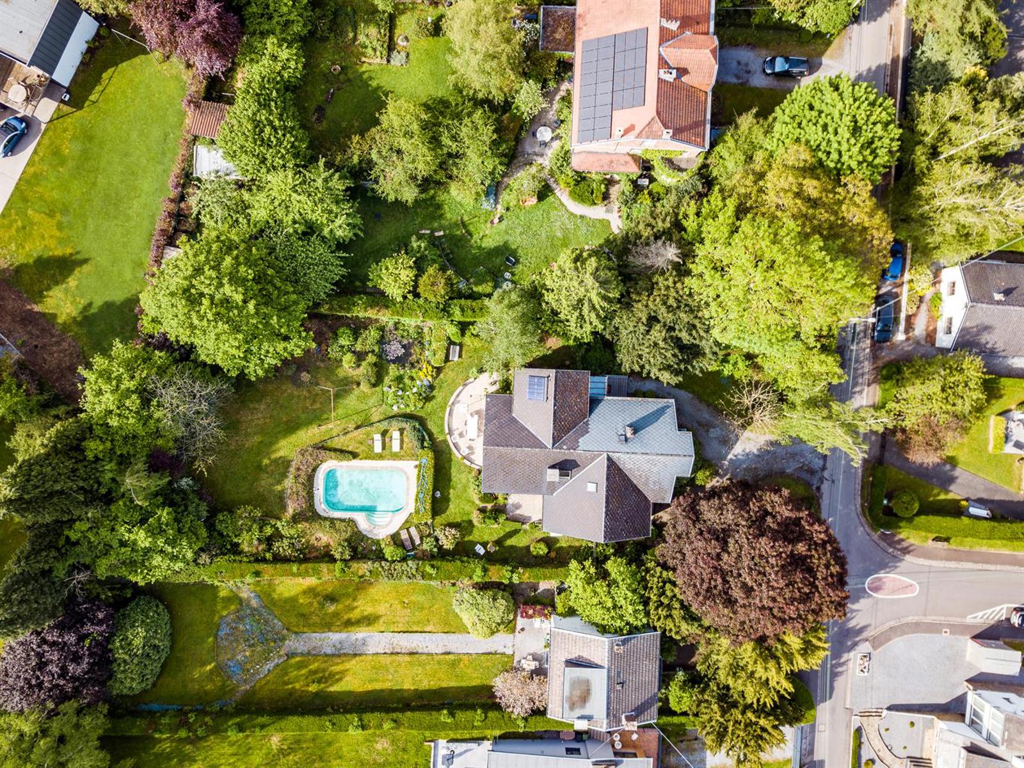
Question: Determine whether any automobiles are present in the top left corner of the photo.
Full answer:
Yes, an automobile is visible in the top left corner of the photo.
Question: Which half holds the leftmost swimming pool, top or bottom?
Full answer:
It is in the bottom half that the leftmost swimming pool appears.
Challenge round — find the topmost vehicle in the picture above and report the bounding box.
[761,54,810,79]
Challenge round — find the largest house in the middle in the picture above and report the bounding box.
[481,368,695,543]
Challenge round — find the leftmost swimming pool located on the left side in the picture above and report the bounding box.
[314,460,417,539]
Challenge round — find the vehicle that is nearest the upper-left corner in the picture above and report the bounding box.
[0,114,33,158]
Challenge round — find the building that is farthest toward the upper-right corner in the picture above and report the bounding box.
[938,262,1024,355]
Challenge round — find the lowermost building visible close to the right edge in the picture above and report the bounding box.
[942,684,1024,755]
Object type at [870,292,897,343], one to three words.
car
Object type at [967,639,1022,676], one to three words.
building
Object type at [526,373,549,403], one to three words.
solar panel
